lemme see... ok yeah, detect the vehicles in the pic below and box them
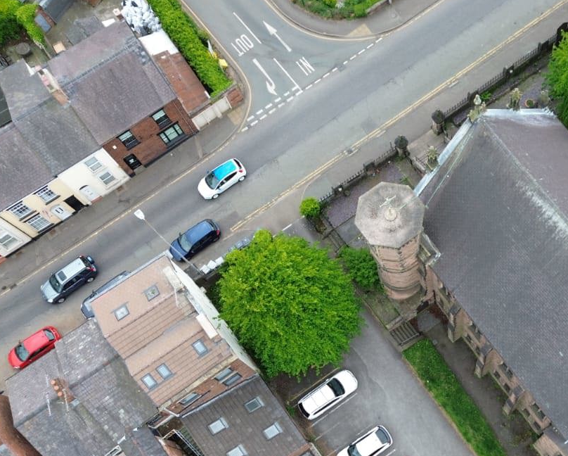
[292,368,361,419]
[196,157,249,200]
[5,322,65,370]
[334,423,398,456]
[167,215,224,262]
[80,271,133,320]
[37,252,101,303]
